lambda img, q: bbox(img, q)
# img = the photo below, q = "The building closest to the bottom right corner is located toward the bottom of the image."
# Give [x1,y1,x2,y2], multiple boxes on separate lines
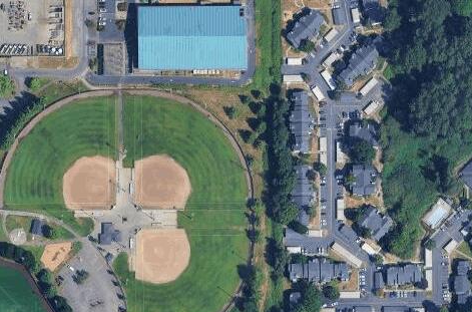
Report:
[452,278,472,298]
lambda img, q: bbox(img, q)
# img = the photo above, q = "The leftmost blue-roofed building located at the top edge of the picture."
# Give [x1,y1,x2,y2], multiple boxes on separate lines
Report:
[137,4,245,69]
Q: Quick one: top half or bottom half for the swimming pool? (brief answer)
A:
bottom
